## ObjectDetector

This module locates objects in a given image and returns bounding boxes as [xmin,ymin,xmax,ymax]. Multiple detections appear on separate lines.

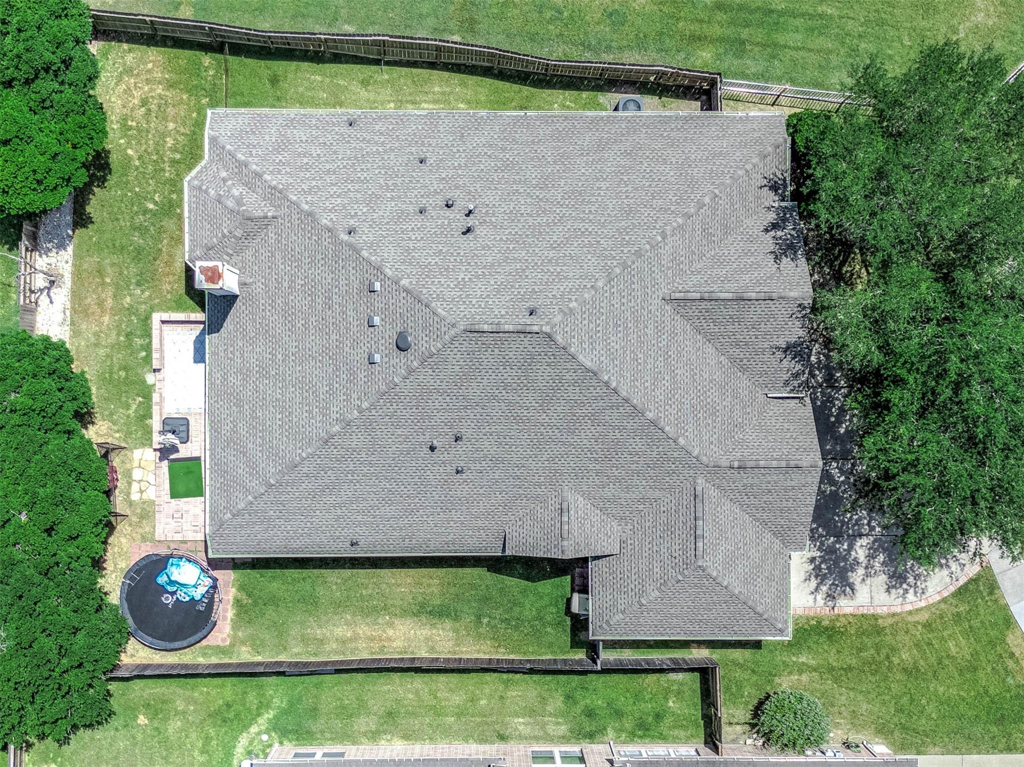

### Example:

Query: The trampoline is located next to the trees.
[120,549,223,651]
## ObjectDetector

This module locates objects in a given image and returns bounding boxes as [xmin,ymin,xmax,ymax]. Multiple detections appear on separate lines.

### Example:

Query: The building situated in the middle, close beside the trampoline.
[182,109,820,642]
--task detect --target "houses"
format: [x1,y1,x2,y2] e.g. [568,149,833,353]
[182,109,820,642]
[253,736,918,767]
